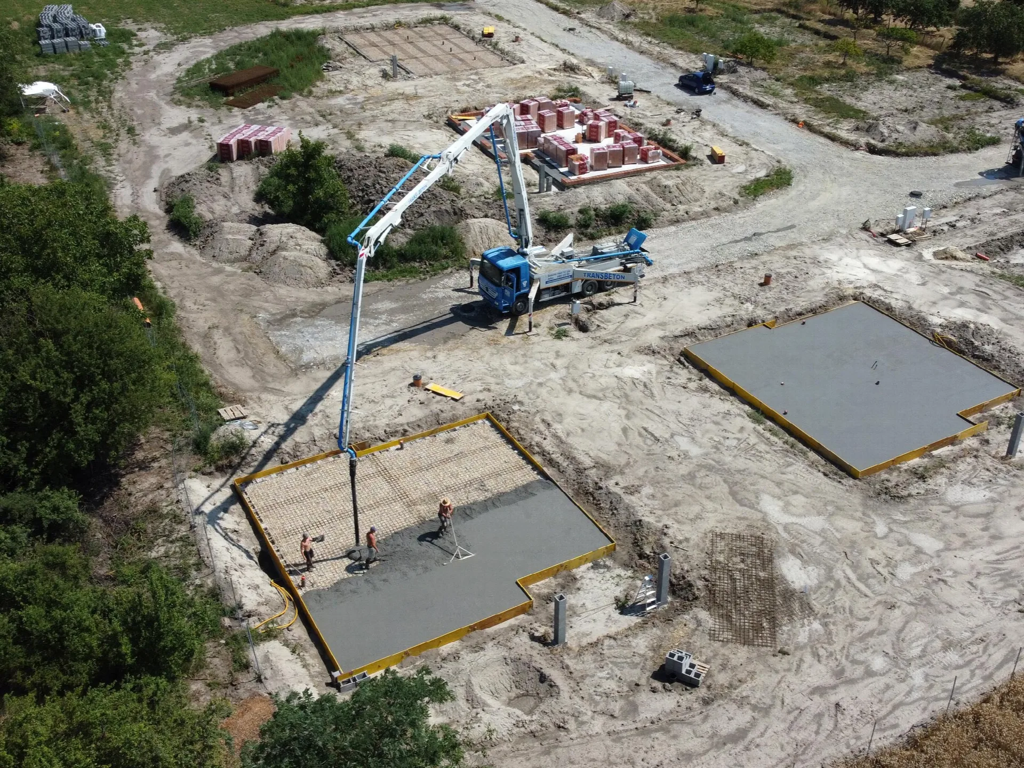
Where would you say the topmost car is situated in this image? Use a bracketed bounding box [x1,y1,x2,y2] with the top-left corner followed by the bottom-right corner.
[678,68,721,93]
